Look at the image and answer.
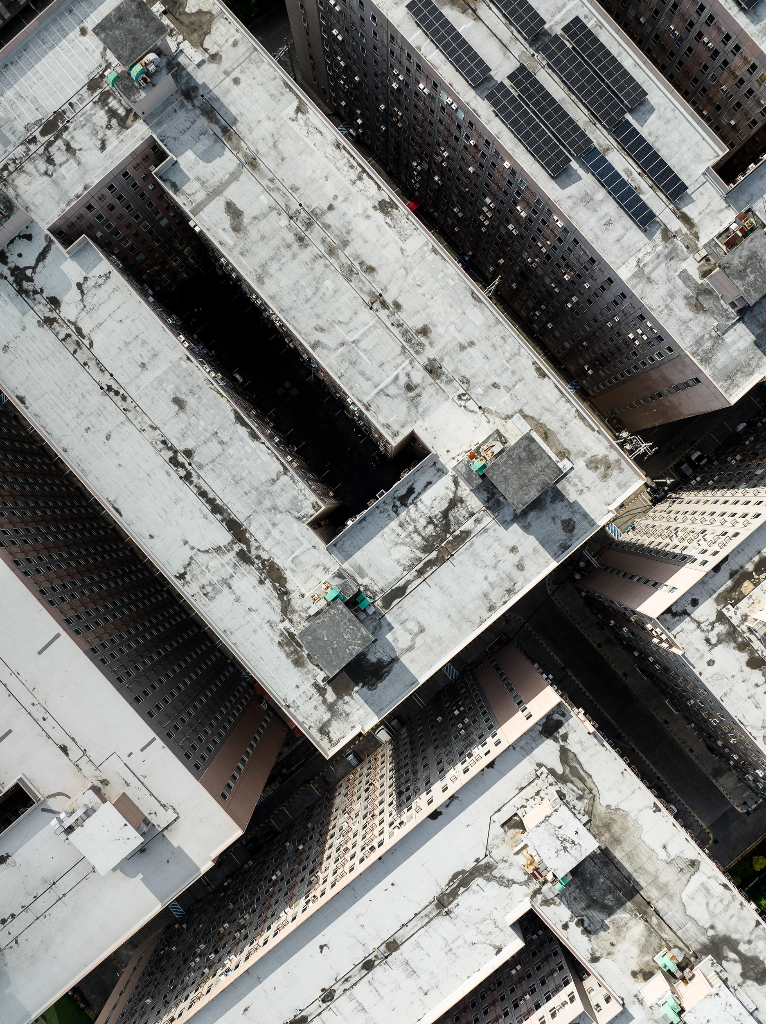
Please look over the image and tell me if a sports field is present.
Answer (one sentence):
No, the picture doesn't show any sports field.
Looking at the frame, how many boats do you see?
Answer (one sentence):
There are no boats in the image.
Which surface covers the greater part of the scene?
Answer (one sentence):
For the most part, this view shows buildings.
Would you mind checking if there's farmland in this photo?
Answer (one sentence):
No, the picture contains no farmland.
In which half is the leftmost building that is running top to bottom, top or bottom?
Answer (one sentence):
The leftmost building that is running top to bottom is in the bottom half of the image.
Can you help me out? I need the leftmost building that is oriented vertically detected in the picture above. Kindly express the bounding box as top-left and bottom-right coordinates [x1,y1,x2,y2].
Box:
[0,406,286,1024]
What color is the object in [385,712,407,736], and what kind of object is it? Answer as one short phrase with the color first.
black car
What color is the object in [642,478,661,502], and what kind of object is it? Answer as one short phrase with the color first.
black car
